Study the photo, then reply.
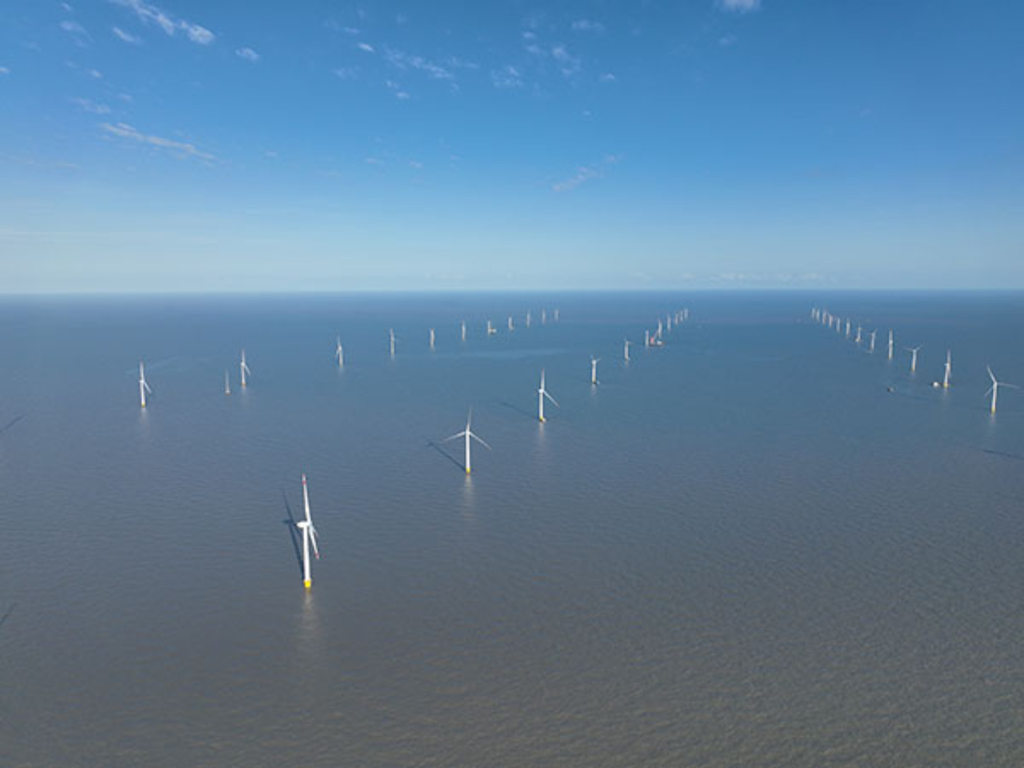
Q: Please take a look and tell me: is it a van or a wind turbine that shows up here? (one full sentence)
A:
This aerial view contains a wind turbine.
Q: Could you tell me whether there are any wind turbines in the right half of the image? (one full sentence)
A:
Yes, a wind turbine can be seen in the right half of the image.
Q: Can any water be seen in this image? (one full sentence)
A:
Yes, the picture does contain water.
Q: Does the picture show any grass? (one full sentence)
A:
No, there's no grass in this view.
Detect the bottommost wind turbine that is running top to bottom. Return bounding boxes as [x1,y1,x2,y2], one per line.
[294,473,318,587]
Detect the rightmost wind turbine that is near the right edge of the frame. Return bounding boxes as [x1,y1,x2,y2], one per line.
[986,369,1021,412]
